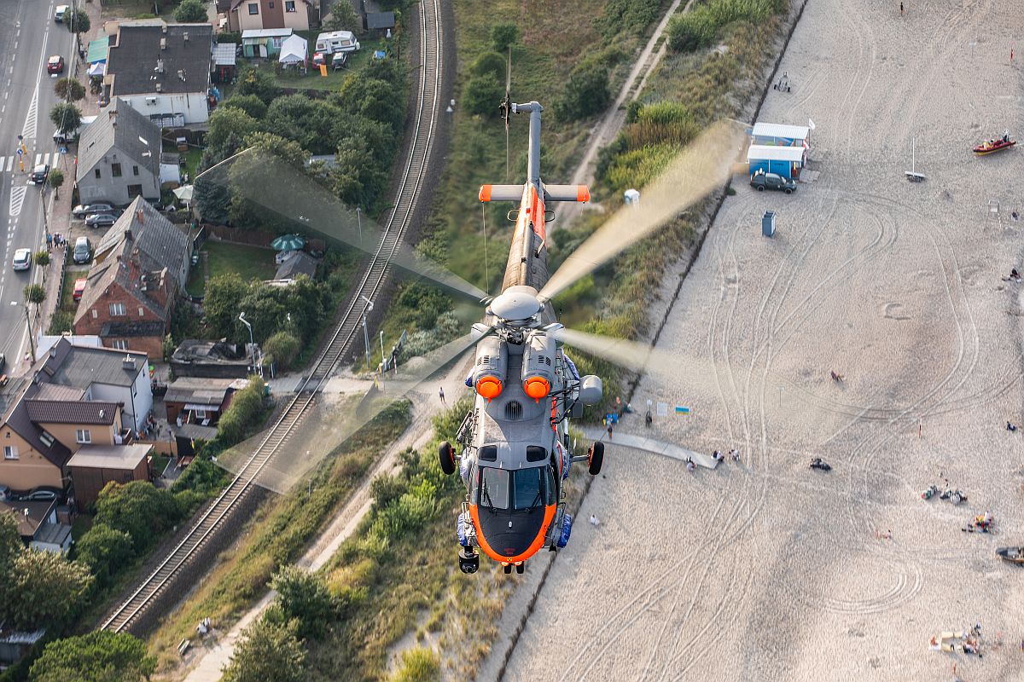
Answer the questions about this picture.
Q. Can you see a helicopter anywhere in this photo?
Yes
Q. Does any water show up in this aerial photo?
No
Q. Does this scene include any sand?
Yes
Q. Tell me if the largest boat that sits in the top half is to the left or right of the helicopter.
to the right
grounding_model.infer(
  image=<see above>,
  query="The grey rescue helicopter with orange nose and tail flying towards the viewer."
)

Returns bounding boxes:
[216,44,834,573]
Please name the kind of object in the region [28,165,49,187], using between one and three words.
car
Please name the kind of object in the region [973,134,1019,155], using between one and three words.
boat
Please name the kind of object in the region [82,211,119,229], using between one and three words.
car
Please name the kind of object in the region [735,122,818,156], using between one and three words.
shed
